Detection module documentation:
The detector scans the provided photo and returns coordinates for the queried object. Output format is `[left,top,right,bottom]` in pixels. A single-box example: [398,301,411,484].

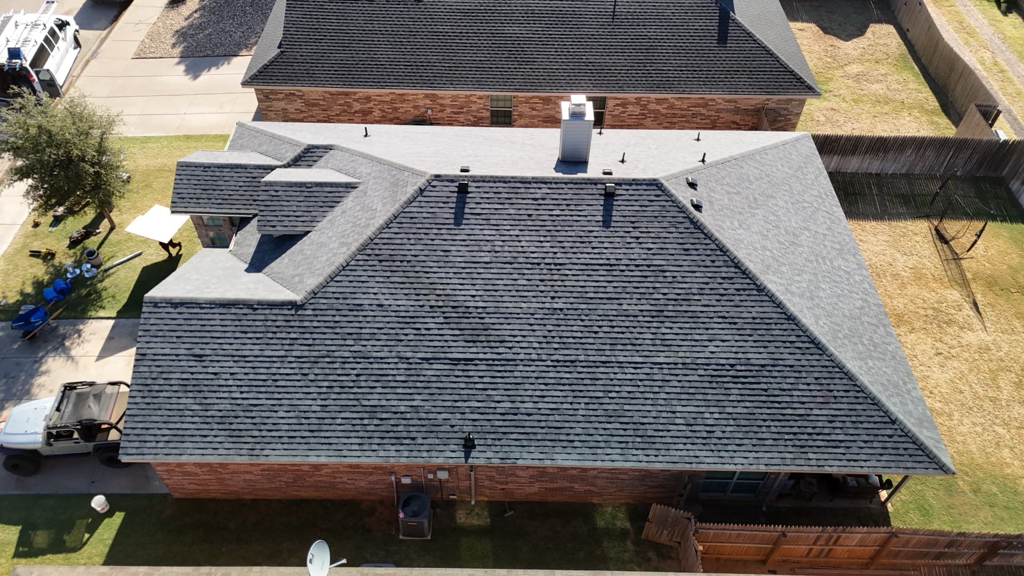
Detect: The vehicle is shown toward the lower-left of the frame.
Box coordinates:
[0,386,142,480]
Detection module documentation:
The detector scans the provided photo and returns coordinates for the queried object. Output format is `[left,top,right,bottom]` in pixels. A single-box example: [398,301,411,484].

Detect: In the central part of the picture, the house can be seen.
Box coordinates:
[118,98,958,512]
